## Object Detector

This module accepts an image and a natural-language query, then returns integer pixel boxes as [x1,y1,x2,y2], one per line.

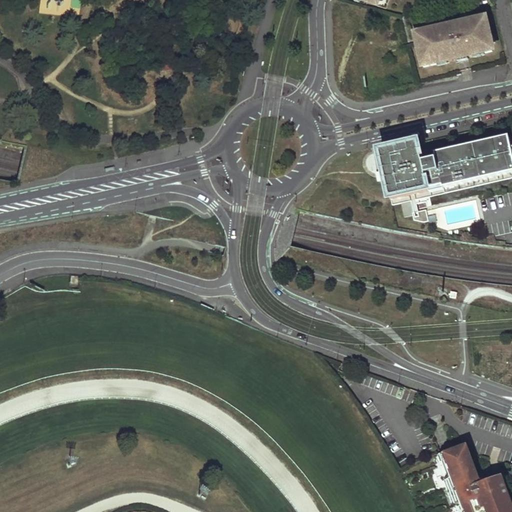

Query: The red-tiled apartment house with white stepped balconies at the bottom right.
[433,442,512,512]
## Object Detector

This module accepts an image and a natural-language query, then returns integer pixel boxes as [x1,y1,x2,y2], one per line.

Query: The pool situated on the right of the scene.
[431,196,484,232]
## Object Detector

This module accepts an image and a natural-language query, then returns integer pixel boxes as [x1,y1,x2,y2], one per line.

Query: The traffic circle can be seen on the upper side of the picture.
[220,98,319,197]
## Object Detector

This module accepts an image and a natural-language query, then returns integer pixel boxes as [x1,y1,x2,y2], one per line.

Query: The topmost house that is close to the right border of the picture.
[411,11,494,70]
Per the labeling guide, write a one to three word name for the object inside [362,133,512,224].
building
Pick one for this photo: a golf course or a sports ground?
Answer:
sports ground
